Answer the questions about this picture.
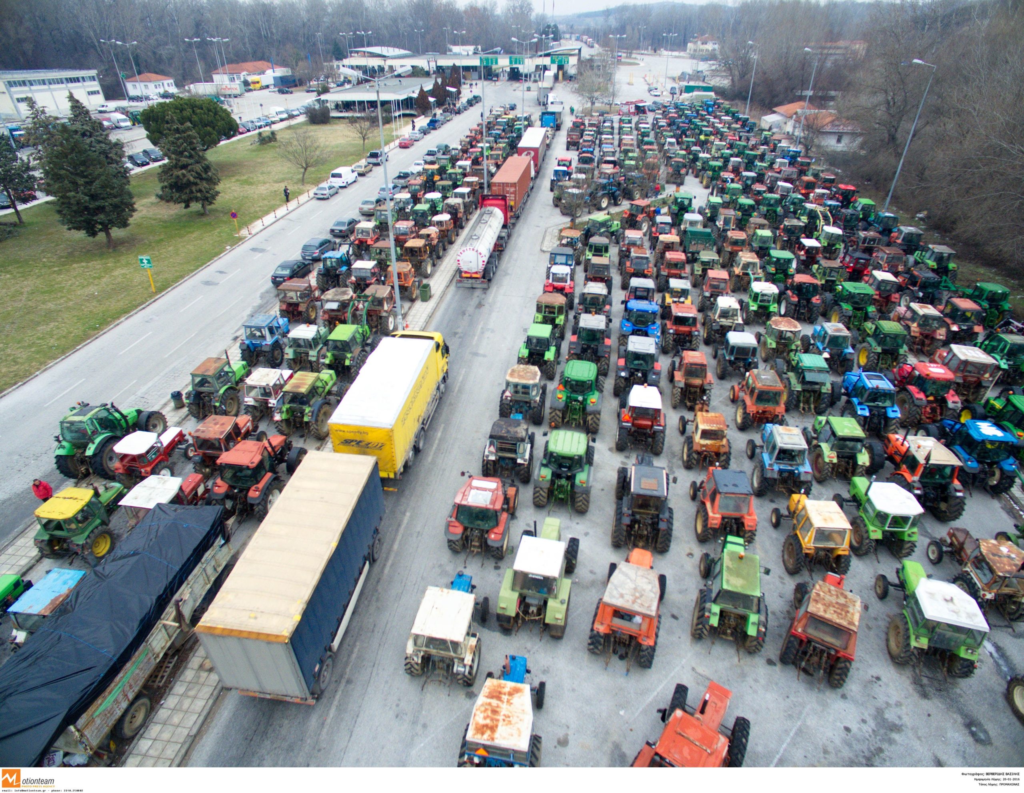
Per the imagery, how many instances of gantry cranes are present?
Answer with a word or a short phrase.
none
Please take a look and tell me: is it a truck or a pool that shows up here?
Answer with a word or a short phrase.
truck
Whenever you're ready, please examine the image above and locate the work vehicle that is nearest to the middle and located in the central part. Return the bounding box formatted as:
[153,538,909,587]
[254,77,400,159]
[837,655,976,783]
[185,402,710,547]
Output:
[499,371,544,428]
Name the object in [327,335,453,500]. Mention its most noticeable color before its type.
white truck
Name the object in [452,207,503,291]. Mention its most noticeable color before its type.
white trailer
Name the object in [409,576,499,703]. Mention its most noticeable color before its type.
white work vehicle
